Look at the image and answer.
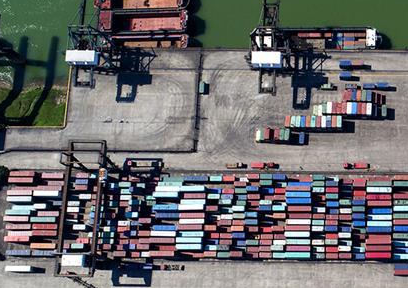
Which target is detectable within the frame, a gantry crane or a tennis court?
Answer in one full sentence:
It is a gantry crane that can be seen here.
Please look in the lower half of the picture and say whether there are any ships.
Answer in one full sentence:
No, the scene shows no ship in the lower half of the picture.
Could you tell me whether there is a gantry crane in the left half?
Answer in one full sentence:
Yes, looking in the left half, one can make out a gantry crane.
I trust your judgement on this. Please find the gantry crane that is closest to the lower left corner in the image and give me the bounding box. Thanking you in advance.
[55,141,125,288]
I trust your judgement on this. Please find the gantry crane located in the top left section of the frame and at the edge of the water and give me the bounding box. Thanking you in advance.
[63,0,126,88]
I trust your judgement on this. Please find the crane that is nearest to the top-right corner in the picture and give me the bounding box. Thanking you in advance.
[249,0,306,94]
